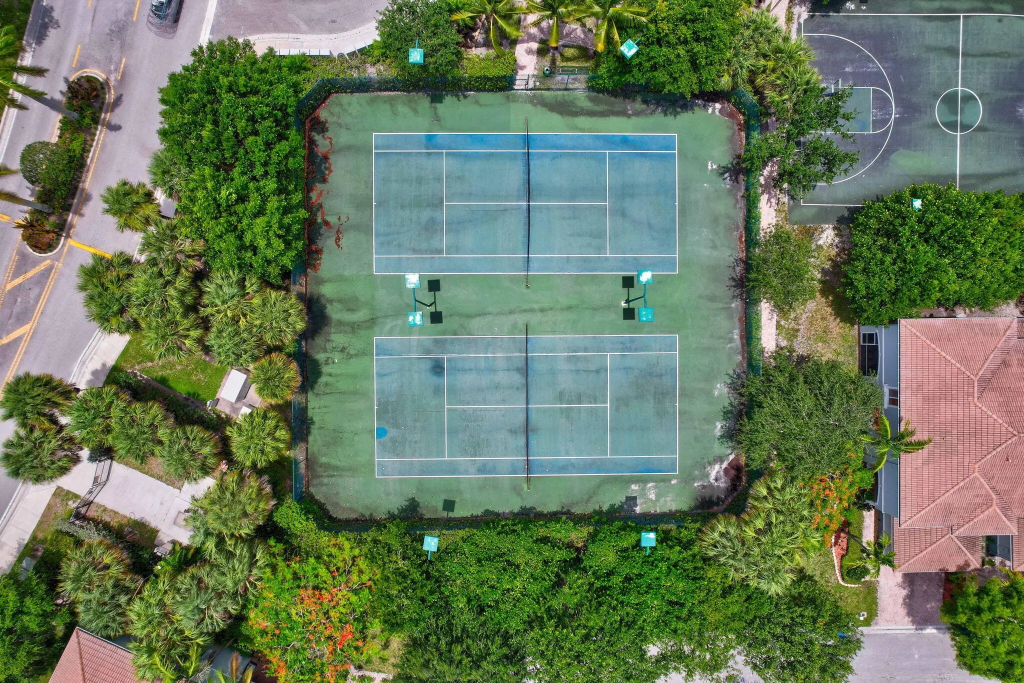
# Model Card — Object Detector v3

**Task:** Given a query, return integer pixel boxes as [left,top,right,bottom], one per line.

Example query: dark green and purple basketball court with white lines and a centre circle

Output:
[789,0,1024,223]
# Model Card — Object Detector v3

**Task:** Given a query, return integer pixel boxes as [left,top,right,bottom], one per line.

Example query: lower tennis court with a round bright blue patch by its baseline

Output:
[374,334,679,477]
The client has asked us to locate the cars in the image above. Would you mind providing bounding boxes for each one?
[148,0,183,28]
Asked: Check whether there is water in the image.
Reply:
No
